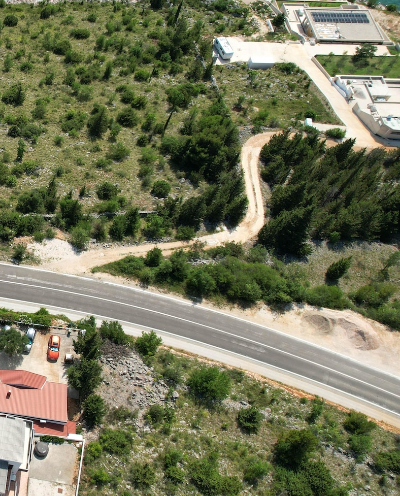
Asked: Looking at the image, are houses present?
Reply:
Yes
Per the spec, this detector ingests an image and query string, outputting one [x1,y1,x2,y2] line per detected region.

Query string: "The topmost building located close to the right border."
[281,3,385,47]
